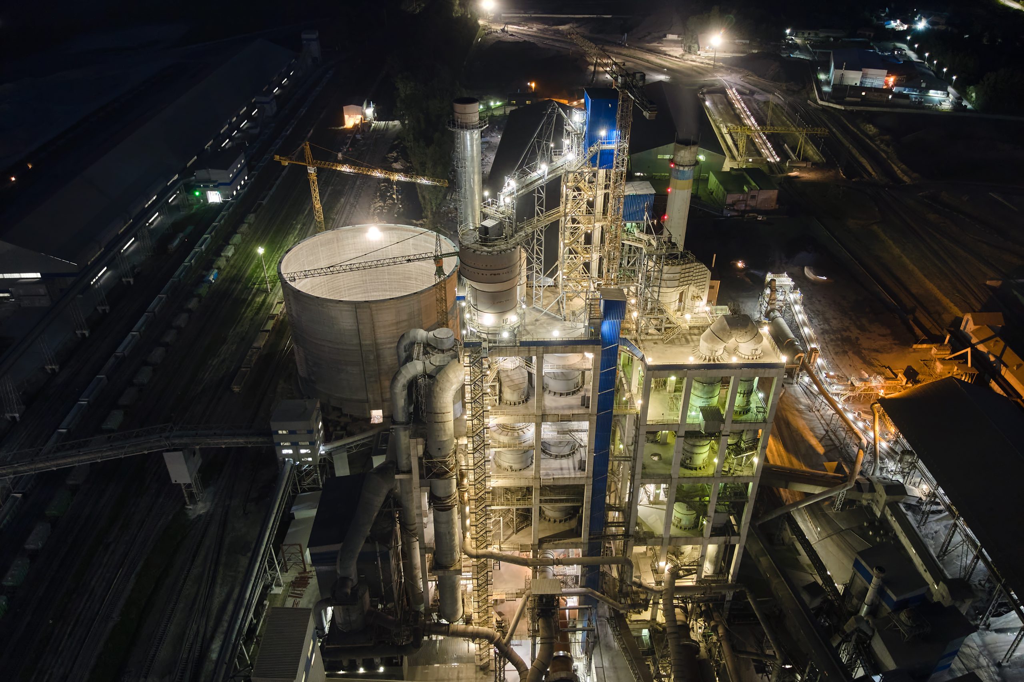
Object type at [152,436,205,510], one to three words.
house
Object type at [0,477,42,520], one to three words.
rail car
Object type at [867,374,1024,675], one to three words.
warehouse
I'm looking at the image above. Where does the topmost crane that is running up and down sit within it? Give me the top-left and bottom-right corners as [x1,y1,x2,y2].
[567,23,657,288]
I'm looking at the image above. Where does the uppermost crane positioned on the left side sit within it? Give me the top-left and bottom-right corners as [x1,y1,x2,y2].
[273,142,448,233]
